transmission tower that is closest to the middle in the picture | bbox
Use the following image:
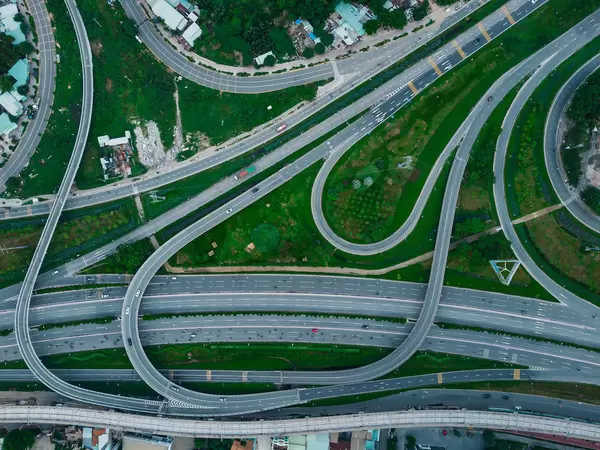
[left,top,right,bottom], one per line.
[394,154,410,170]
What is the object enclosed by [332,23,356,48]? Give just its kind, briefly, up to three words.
house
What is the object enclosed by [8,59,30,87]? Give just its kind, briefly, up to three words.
house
